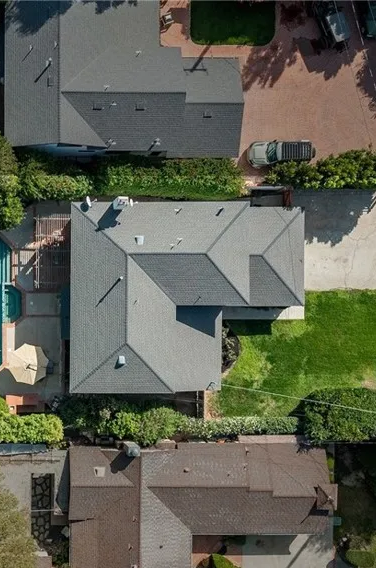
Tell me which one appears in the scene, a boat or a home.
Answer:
home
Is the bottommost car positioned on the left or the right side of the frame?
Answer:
right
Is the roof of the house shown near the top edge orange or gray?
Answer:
gray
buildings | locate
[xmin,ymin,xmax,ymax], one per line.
[9,438,337,568]
[4,0,243,159]
[61,196,305,395]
